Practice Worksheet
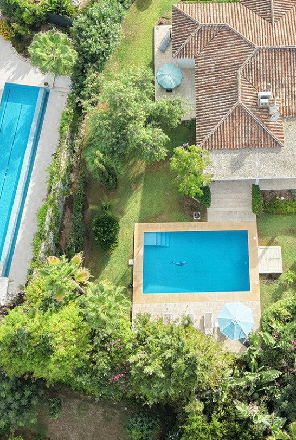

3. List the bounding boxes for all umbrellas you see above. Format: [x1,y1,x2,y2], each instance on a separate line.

[156,65,183,88]
[218,303,254,339]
